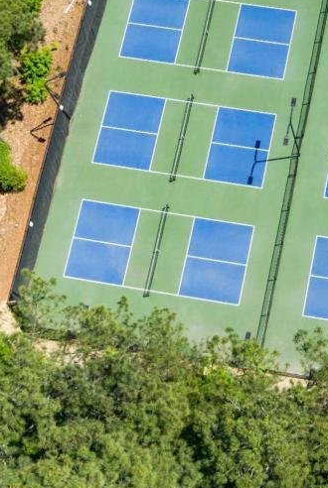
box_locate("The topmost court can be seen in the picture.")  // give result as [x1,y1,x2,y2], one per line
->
[119,0,298,79]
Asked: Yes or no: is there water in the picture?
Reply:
No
